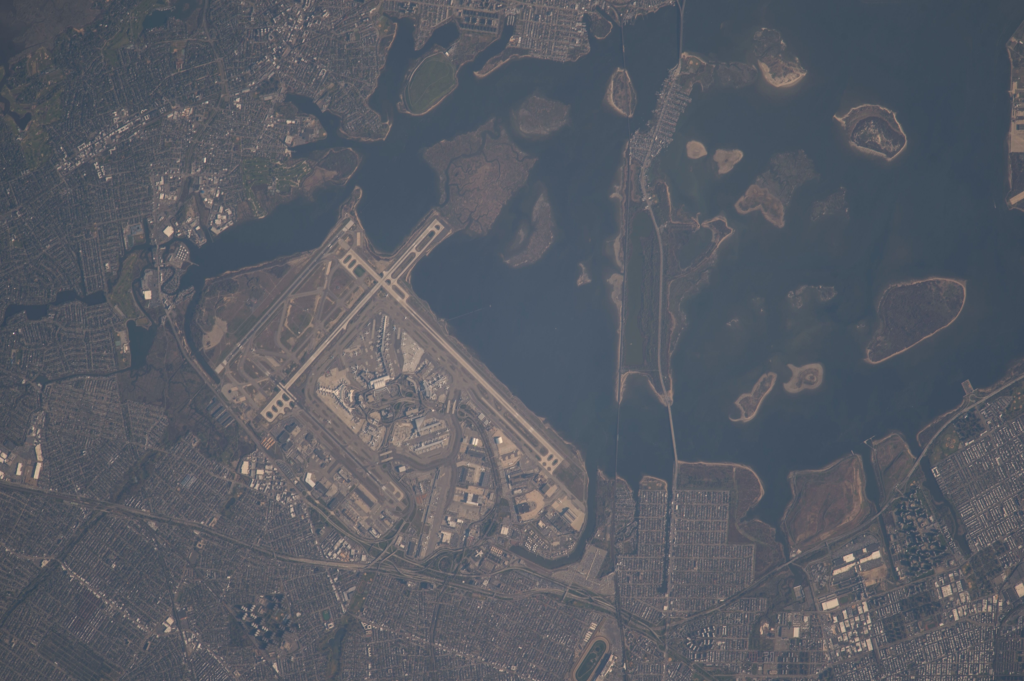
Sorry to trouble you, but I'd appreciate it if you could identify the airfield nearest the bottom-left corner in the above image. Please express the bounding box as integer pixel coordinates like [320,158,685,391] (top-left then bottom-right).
[215,214,585,559]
